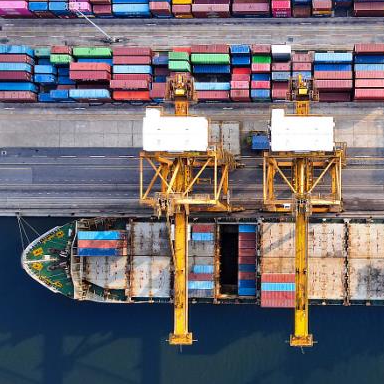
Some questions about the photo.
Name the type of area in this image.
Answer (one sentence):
It's a port.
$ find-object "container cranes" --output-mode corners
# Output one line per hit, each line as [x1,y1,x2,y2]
[258,71,348,355]
[140,71,242,355]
